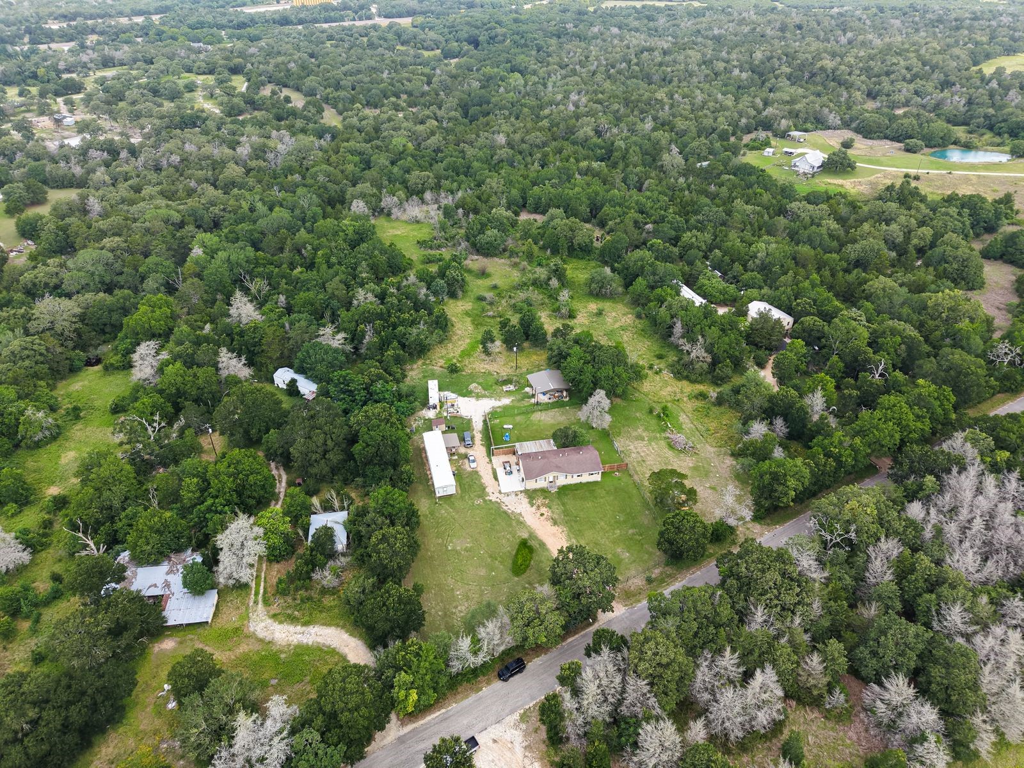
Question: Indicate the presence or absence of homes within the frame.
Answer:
Yes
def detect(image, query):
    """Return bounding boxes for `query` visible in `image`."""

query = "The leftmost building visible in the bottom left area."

[104,548,221,634]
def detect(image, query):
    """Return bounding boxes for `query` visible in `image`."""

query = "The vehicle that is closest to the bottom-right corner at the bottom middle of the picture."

[497,657,527,682]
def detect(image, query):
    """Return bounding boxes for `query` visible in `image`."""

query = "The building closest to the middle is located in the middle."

[526,370,570,403]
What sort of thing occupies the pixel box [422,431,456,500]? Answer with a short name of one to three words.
house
